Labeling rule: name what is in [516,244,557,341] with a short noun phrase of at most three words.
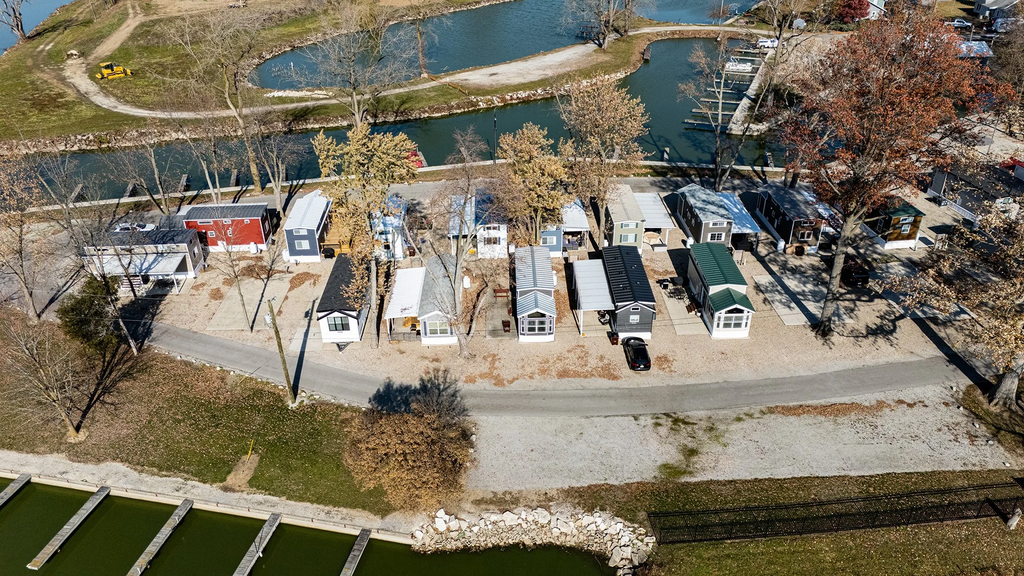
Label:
house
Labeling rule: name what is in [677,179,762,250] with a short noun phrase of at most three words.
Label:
house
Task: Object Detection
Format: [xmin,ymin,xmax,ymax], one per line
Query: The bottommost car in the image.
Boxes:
[625,336,652,368]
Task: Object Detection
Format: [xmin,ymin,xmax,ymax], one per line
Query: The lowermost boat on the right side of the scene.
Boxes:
[725,58,754,72]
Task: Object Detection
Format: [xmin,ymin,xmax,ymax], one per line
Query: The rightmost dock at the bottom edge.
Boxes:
[337,535,372,576]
